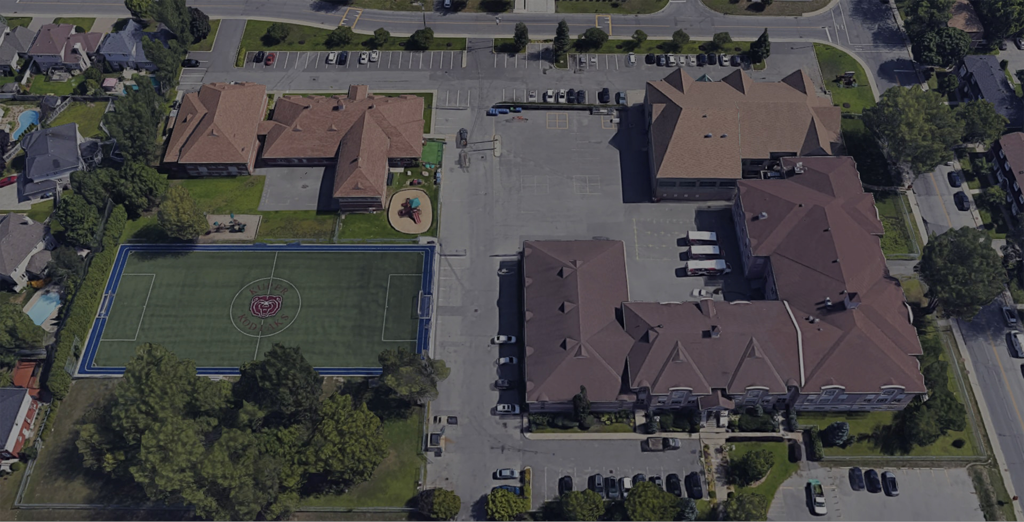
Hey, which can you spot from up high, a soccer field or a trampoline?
soccer field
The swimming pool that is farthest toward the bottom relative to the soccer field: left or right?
to the left of it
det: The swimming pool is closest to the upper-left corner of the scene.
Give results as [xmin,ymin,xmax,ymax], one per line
[12,109,40,140]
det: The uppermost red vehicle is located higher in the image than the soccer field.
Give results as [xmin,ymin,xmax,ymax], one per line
[264,51,277,66]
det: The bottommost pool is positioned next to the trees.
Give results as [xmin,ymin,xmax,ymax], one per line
[28,291,61,324]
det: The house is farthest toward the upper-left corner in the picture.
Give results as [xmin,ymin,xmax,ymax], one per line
[0,23,36,76]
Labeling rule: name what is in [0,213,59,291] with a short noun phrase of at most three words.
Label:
house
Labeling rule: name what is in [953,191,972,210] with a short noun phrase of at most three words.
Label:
car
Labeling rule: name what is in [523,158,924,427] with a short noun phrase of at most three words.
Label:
building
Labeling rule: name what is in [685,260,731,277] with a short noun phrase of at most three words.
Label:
vehicle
